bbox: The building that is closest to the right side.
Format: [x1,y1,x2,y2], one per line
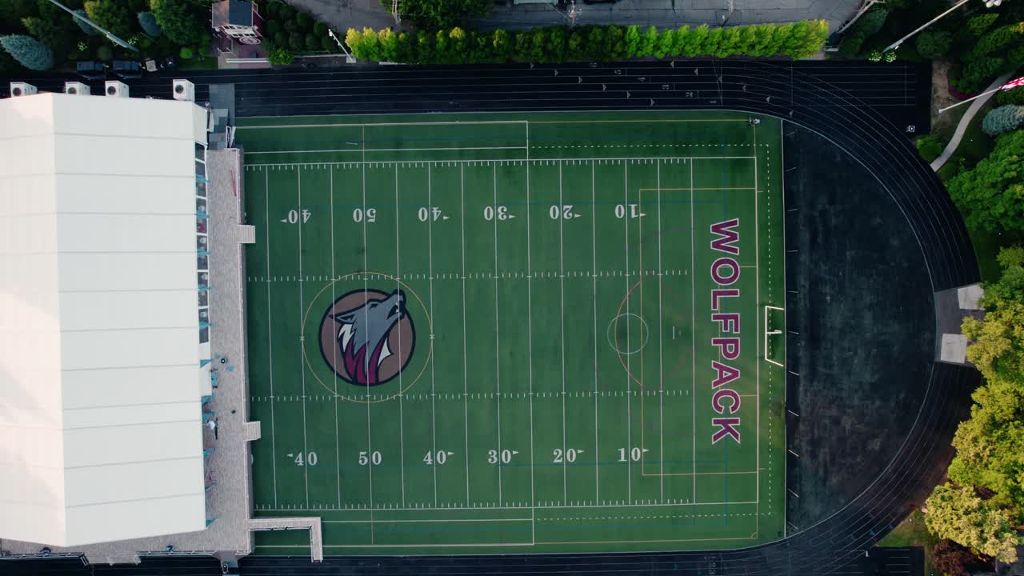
[211,0,266,42]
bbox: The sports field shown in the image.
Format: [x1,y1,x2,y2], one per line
[237,109,785,557]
